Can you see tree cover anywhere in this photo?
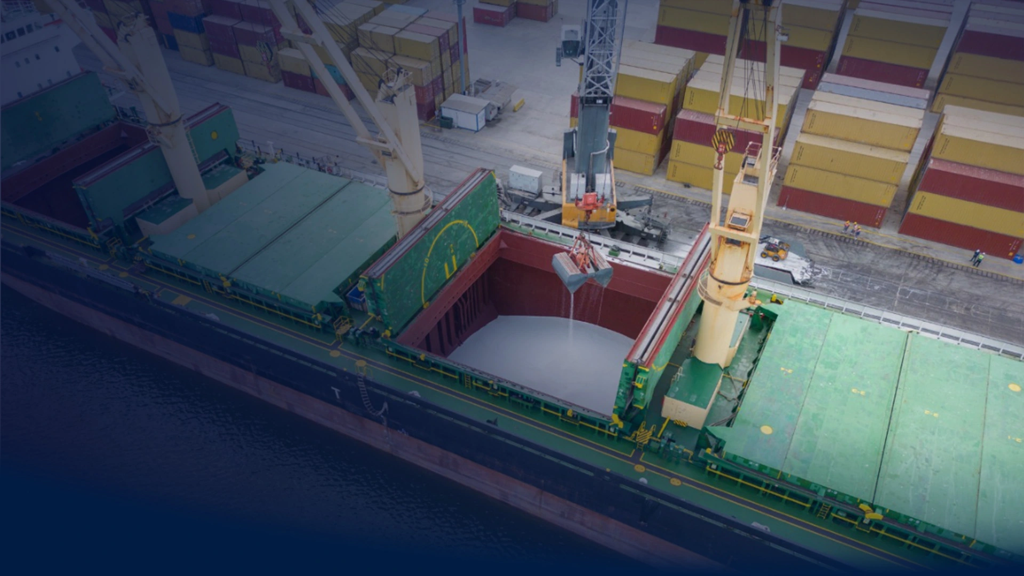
No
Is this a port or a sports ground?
port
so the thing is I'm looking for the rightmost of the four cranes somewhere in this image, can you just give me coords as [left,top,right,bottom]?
[688,0,794,366]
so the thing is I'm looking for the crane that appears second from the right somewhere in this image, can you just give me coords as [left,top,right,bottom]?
[498,0,671,255]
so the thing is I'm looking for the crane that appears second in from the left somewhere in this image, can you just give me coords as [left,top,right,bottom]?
[263,0,437,242]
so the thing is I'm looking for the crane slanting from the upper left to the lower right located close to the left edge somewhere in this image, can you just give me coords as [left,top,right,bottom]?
[47,0,213,212]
